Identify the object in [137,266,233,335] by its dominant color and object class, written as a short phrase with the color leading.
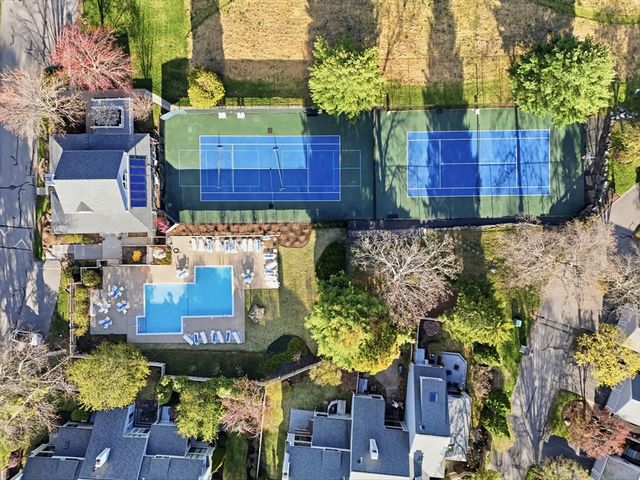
blue swimming pool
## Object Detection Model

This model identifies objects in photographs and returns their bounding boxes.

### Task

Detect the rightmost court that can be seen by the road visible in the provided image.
[376,108,588,221]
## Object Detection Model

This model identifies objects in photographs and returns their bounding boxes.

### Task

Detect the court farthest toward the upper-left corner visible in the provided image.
[164,108,375,221]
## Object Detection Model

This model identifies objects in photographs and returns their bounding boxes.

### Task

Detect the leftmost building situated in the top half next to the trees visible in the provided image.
[45,132,158,235]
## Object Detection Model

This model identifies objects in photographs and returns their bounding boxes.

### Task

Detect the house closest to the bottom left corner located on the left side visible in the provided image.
[21,399,211,480]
